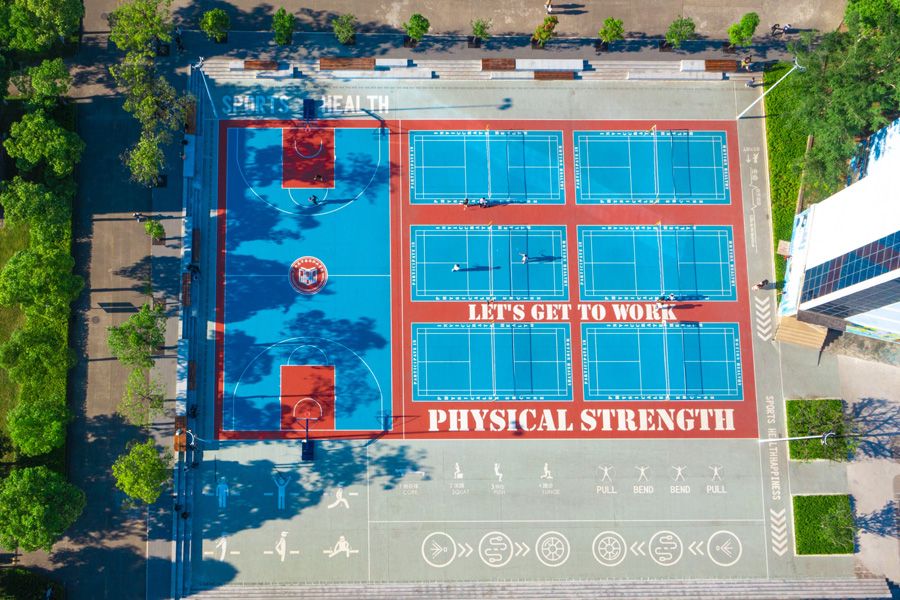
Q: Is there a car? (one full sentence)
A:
No, the picture doesn't show any car.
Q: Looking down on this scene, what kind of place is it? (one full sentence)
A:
What you see here is a sports ground.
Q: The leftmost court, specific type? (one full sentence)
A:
It turns out the leftmost court is a basketball court.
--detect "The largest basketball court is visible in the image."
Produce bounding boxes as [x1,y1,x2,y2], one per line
[222,128,392,430]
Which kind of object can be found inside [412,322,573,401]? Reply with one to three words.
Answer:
sports court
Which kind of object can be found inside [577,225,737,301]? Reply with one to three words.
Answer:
sports court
